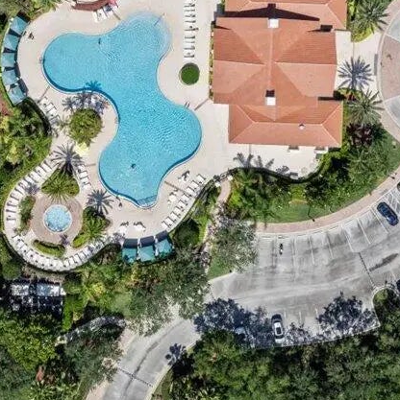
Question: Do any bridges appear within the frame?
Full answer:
No, the frame has no bridge in it.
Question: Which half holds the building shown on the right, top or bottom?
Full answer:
The top half of the photo is where the building shown on the right is.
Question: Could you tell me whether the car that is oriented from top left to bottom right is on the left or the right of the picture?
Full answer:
You can find the car that is oriented from top left to bottom right on the right side of the picture.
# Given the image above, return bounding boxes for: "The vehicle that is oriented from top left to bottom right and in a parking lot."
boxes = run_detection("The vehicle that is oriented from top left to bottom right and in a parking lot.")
[377,201,398,226]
